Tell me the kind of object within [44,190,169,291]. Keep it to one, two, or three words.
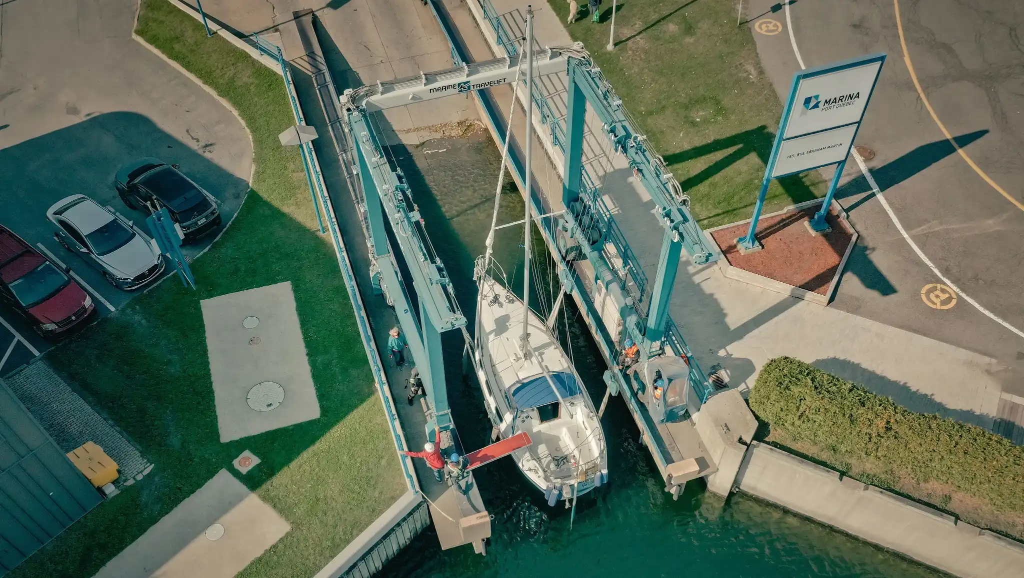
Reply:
car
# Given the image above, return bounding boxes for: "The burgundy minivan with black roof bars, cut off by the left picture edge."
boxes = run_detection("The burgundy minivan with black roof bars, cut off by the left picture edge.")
[0,213,103,339]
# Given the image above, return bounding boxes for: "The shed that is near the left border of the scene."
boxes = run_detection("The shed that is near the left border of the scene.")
[0,372,110,578]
